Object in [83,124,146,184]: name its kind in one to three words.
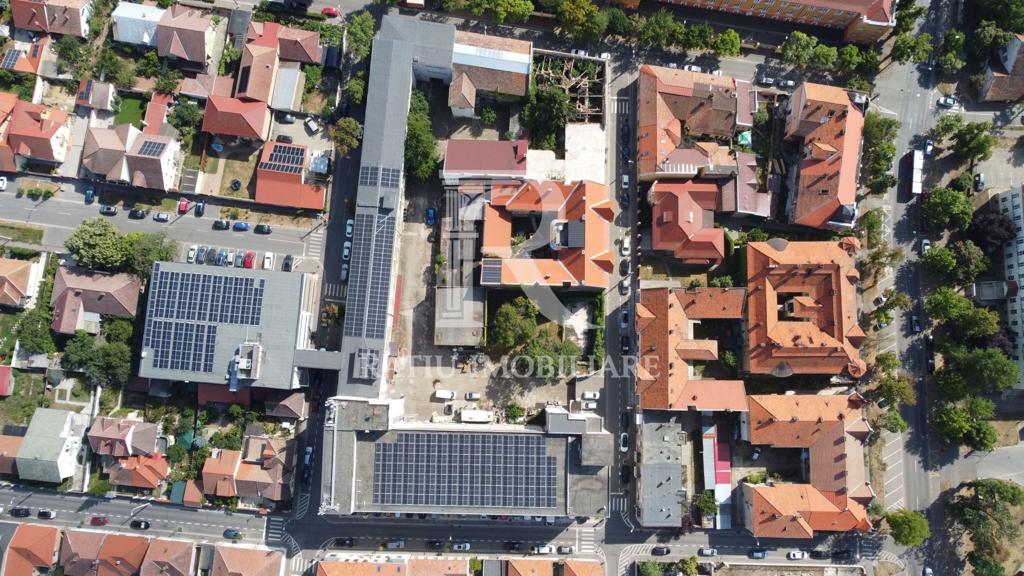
house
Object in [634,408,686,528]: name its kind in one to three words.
building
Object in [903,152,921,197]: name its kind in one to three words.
vehicle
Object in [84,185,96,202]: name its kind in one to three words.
vehicle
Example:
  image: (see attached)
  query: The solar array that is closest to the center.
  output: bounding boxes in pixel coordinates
[483,260,502,282]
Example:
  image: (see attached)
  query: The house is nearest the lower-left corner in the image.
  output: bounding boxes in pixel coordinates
[4,522,68,576]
